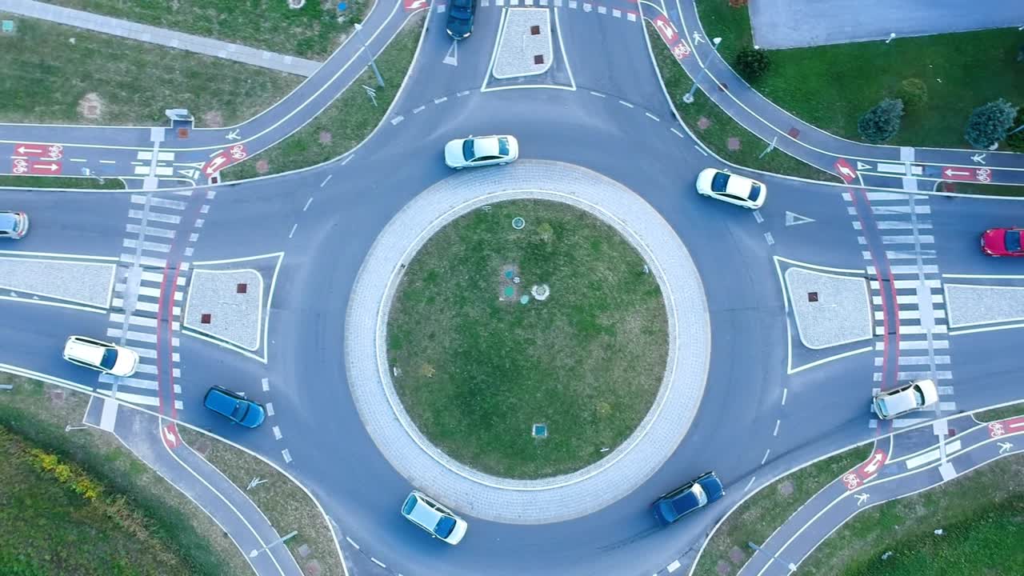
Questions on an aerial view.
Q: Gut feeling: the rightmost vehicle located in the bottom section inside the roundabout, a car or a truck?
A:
car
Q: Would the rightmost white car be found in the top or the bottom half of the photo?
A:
bottom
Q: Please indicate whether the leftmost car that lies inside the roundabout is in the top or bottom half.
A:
bottom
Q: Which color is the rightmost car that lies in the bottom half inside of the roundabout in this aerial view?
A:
blue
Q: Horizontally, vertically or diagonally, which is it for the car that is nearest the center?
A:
horizontally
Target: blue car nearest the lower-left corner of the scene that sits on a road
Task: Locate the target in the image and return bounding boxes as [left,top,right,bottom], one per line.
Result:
[203,384,265,427]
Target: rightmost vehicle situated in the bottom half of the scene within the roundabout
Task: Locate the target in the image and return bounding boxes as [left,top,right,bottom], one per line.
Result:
[649,472,723,525]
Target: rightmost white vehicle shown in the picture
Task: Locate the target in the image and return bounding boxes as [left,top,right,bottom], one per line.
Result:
[870,378,937,419]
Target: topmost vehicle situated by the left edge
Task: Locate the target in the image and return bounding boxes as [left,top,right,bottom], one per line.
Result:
[0,210,29,242]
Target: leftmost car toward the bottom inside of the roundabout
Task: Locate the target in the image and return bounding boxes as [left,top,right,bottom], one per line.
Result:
[403,492,466,542]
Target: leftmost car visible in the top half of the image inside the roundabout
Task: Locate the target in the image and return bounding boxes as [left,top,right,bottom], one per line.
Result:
[444,132,520,170]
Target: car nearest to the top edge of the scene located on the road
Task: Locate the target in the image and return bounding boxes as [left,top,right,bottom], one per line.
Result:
[442,0,476,41]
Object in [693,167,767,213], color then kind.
white car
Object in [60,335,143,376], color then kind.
white car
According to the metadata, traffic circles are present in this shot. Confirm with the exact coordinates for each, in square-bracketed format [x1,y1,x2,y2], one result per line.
[268,82,787,576]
